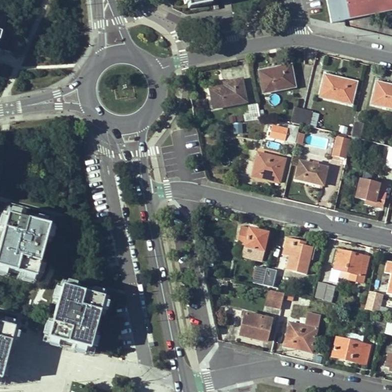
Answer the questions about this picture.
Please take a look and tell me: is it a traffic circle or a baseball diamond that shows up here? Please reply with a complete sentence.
I can see a traffic circle in this picture.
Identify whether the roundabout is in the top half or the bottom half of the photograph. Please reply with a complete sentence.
It is in the top half that the roundabout appears.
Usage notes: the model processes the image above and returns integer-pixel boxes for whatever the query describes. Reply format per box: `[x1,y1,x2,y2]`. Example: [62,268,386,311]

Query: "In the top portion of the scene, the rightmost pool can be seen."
[305,134,328,150]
